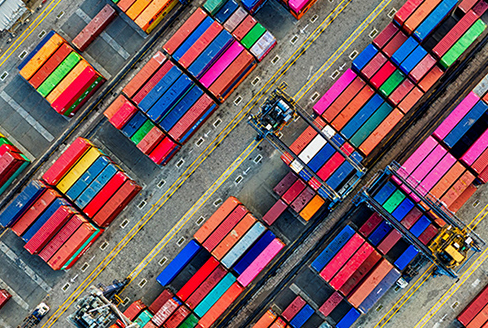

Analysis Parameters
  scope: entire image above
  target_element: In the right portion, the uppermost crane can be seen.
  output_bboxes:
[245,84,371,214]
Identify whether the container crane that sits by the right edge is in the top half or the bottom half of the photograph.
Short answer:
bottom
